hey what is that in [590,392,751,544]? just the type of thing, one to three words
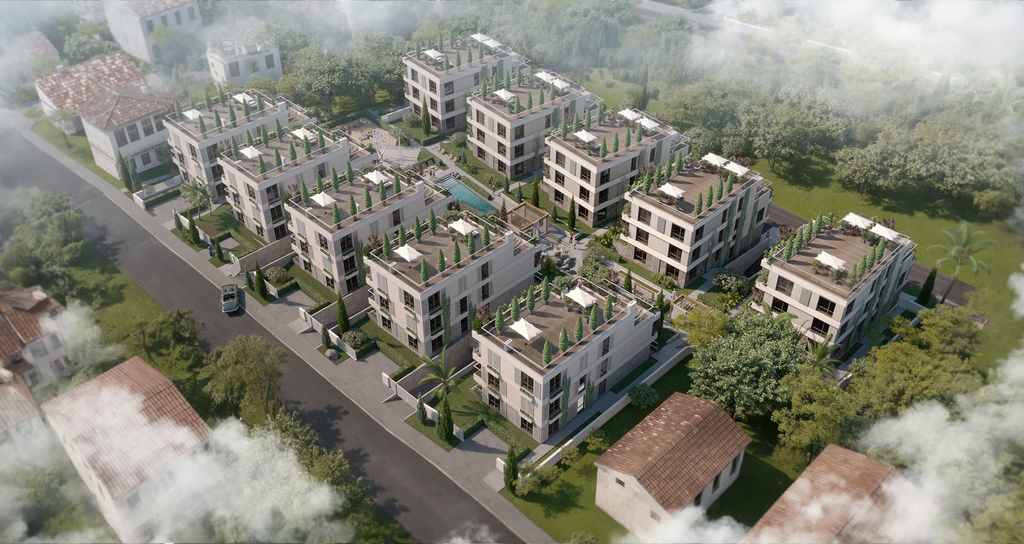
house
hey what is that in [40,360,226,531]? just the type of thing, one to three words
house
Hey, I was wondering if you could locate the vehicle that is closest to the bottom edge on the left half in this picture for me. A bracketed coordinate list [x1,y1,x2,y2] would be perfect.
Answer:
[219,284,238,311]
